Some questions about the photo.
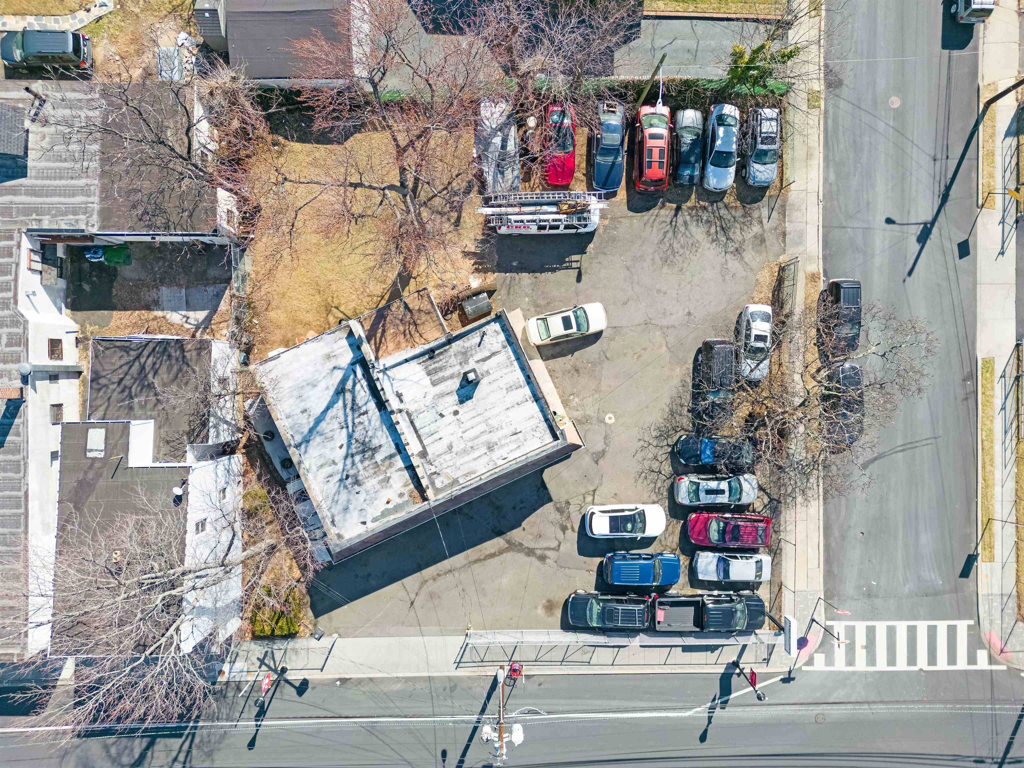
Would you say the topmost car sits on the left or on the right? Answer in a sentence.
The topmost car appears in the right half of the scene.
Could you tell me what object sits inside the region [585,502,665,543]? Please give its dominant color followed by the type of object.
white car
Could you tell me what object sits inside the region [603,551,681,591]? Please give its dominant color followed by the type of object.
blue car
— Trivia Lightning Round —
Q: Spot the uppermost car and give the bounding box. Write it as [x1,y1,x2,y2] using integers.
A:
[945,0,993,24]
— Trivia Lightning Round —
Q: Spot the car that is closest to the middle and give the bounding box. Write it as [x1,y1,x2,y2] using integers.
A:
[525,302,607,347]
